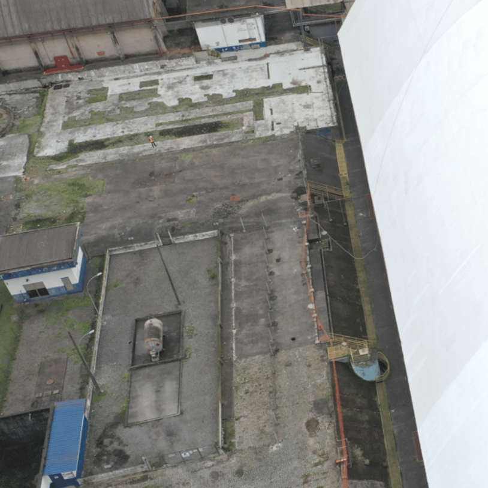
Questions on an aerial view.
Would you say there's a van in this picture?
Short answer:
No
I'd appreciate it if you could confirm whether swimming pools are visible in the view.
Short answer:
No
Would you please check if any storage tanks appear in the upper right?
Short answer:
No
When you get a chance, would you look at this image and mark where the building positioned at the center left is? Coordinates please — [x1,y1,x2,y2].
[0,223,85,300]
